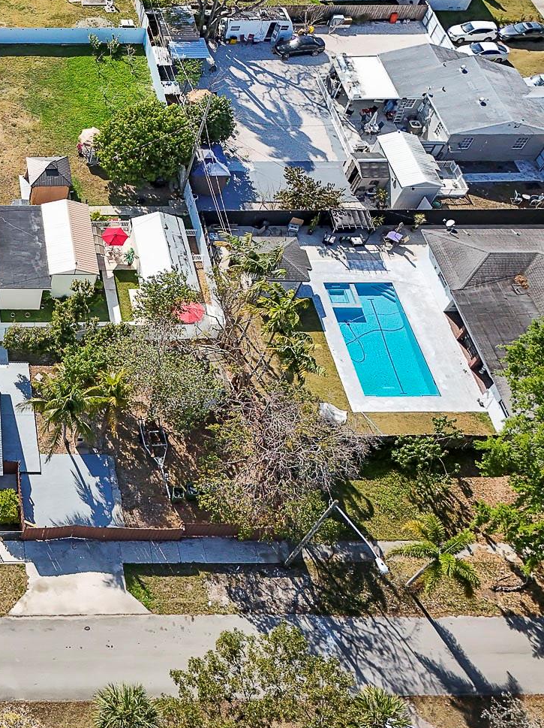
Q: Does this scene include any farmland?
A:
No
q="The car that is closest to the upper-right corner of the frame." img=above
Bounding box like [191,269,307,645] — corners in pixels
[498,19,544,43]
